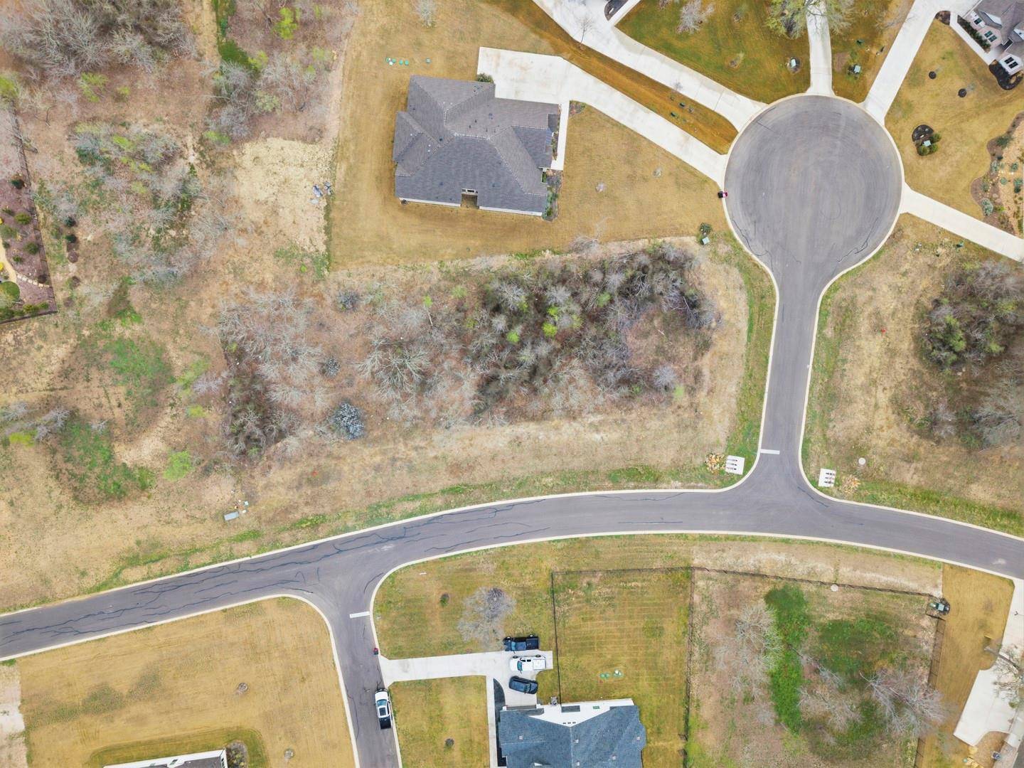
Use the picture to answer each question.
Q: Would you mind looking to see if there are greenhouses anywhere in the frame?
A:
No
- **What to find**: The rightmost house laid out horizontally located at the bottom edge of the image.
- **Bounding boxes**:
[498,698,646,768]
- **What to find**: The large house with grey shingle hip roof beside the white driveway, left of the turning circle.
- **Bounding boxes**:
[393,75,559,215]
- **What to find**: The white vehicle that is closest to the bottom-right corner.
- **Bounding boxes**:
[509,655,546,674]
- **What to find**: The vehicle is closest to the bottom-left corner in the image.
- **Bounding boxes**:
[373,689,392,731]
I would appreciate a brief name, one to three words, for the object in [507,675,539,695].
car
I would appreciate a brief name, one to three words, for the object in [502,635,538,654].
vehicle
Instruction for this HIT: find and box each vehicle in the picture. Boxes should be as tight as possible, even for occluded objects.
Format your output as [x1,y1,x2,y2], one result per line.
[509,655,546,674]
[373,689,392,731]
[502,635,538,654]
[507,675,539,695]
